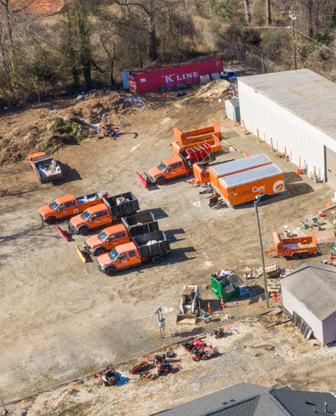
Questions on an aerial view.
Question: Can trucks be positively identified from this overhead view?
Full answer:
Yes, a truck is visible in the scene.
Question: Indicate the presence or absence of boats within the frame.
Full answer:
No, the picture doesn't show any boat.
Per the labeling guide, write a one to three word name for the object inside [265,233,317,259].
trailer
